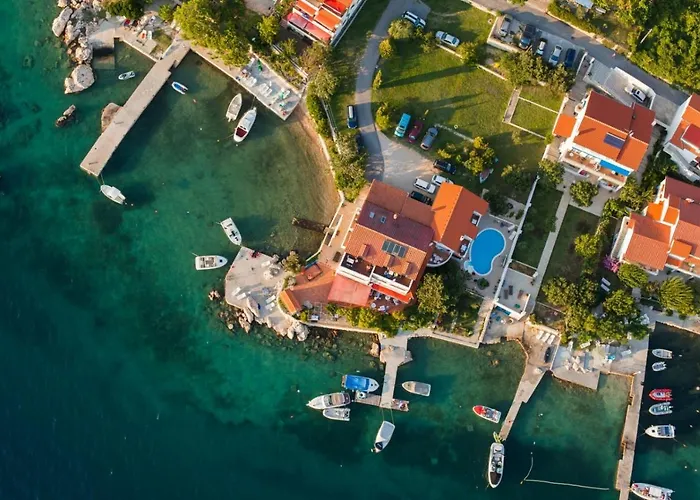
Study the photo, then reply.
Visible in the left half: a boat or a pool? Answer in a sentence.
Visible in the left half is a boat.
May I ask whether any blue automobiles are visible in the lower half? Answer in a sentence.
No, no blue automobile can be made out in the lower half.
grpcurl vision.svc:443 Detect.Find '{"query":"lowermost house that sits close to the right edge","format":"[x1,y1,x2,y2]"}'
[604,176,700,281]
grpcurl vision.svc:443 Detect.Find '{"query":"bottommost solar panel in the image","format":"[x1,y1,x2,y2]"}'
[382,241,408,259]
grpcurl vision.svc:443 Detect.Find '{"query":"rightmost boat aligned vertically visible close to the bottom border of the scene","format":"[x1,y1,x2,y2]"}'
[489,438,504,489]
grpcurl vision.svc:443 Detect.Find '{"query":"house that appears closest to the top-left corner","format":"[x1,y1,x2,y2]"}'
[288,0,367,51]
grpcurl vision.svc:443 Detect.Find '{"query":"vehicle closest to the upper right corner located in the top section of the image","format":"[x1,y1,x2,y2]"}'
[625,87,647,105]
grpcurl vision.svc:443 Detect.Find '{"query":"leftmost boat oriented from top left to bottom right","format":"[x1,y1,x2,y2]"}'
[100,184,129,207]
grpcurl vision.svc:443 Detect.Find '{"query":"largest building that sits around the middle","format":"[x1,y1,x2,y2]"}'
[280,179,488,317]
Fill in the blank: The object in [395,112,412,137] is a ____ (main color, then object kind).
blue car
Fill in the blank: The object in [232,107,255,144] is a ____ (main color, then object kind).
white boat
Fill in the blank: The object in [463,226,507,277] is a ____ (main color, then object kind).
blue swimming pool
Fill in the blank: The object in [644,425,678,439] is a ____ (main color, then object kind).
white boat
